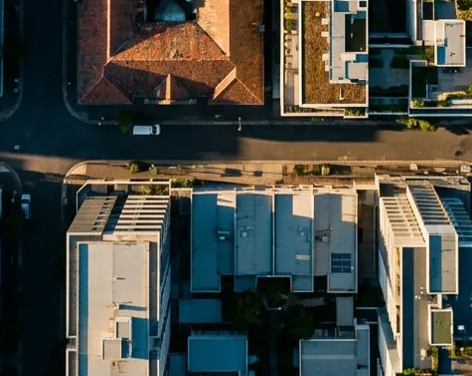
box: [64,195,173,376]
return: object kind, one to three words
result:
building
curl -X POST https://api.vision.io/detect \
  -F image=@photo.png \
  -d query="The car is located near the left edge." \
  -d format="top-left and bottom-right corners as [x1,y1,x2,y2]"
[19,194,31,219]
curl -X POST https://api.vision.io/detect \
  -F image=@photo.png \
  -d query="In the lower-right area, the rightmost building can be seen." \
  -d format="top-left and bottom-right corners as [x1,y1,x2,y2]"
[381,195,472,376]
